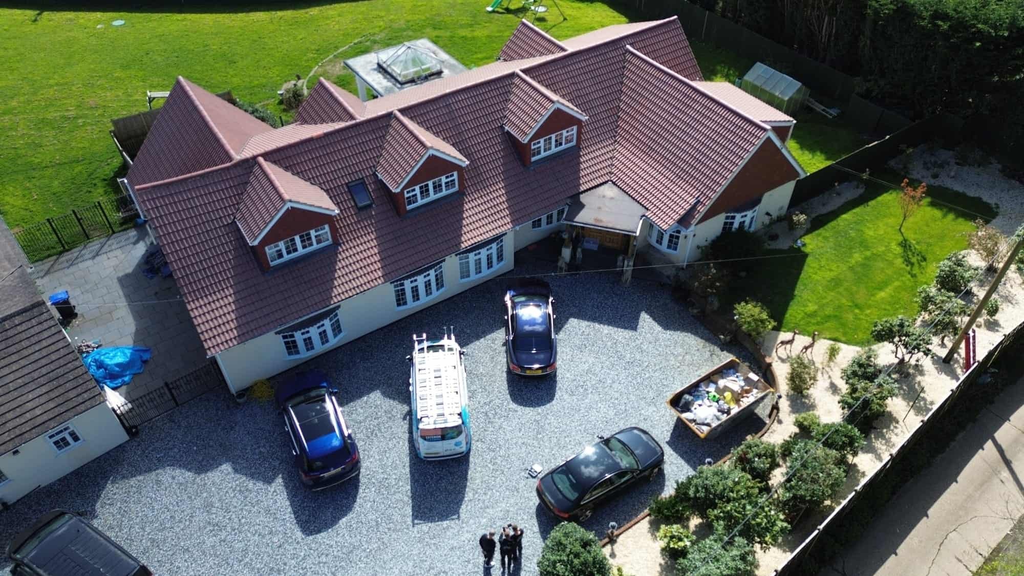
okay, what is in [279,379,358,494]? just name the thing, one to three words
car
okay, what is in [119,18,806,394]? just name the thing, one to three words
house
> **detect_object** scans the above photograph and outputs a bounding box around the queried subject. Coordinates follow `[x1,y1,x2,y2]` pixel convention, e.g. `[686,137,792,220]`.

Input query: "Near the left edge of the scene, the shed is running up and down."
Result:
[0,219,127,508]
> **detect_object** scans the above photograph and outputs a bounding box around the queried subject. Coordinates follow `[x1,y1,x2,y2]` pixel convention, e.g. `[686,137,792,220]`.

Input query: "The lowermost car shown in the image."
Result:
[8,507,154,576]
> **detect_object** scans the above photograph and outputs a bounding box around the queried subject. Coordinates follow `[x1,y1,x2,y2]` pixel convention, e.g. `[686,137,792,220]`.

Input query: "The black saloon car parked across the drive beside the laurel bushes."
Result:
[532,426,665,525]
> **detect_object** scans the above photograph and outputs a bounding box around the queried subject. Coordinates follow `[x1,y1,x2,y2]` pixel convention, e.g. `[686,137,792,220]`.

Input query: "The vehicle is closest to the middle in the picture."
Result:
[503,282,556,377]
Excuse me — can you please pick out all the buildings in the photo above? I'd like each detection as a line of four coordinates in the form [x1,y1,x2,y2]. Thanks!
[0,219,127,508]
[119,18,806,394]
